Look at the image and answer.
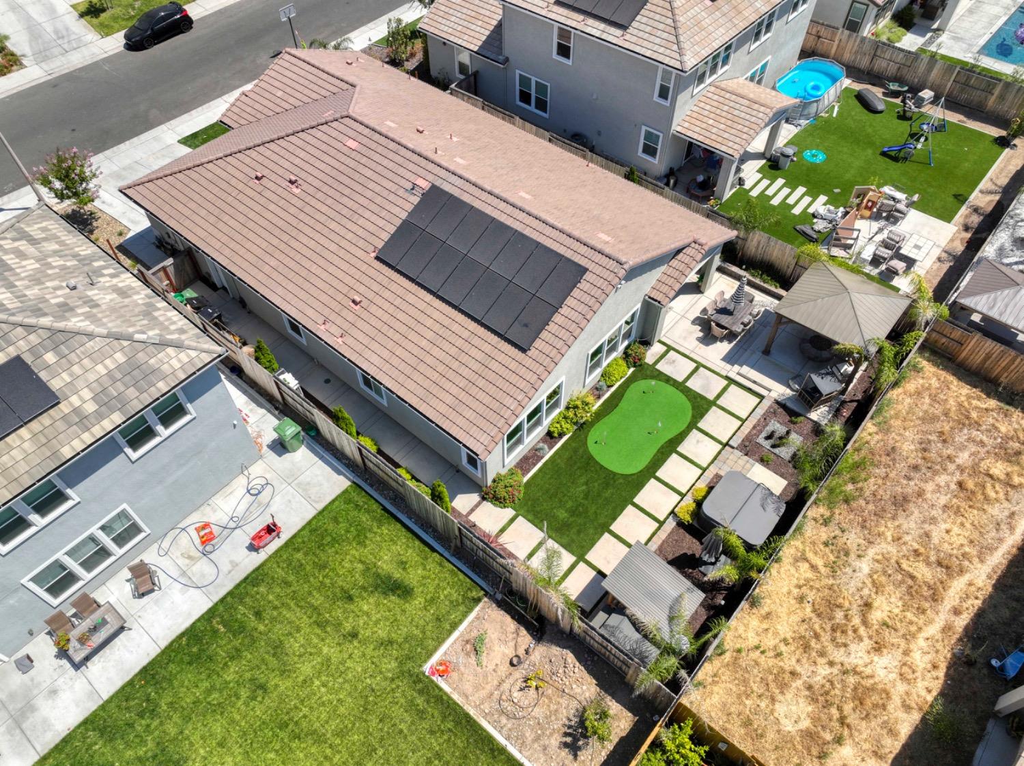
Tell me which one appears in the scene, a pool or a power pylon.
pool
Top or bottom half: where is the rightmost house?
bottom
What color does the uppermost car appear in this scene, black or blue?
black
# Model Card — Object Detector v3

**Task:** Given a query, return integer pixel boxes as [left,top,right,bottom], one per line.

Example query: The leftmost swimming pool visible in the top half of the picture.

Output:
[770,54,848,120]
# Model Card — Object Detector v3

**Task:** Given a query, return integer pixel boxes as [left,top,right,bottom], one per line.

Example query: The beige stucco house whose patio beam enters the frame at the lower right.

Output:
[993,692,1024,726]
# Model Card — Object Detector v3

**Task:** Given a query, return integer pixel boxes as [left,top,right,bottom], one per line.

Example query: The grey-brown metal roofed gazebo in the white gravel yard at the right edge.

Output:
[949,254,1024,332]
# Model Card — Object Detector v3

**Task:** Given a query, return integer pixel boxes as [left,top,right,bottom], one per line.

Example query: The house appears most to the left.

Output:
[0,198,256,665]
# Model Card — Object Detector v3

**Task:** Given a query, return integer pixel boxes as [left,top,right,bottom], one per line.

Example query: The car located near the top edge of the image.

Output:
[119,0,191,46]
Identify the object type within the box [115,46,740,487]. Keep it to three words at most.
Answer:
house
